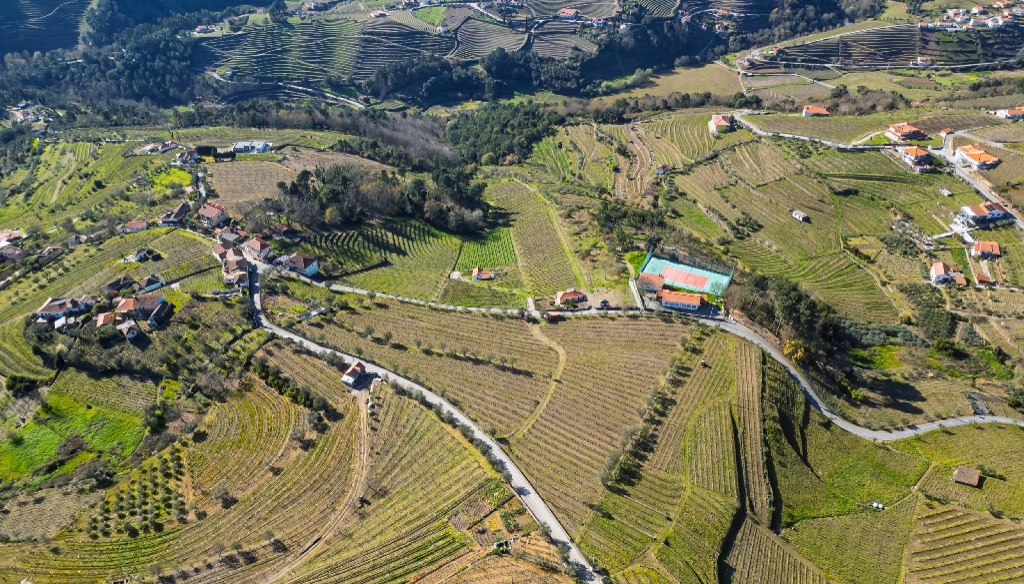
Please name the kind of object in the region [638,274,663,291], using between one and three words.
house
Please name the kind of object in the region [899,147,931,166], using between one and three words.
house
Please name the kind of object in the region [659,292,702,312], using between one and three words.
building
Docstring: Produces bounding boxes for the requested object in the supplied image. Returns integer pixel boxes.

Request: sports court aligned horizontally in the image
[641,256,729,295]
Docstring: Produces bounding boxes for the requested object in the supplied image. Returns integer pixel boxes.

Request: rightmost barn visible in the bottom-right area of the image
[947,467,984,489]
